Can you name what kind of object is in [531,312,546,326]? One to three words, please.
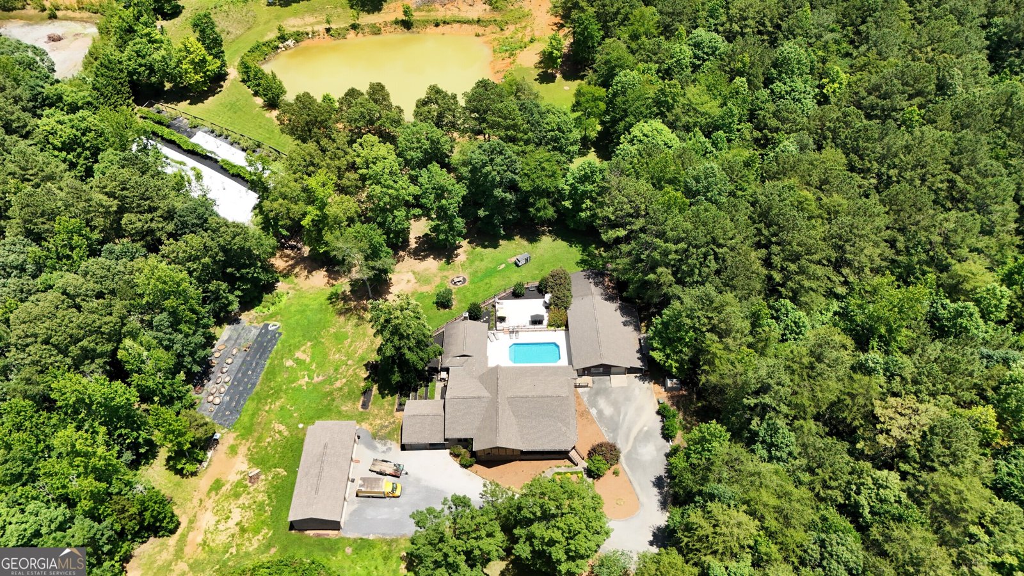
gazebo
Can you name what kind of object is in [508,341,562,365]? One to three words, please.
swimming pool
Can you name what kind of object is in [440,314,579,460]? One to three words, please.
house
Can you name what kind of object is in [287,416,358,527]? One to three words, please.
building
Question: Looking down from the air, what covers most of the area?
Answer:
trees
